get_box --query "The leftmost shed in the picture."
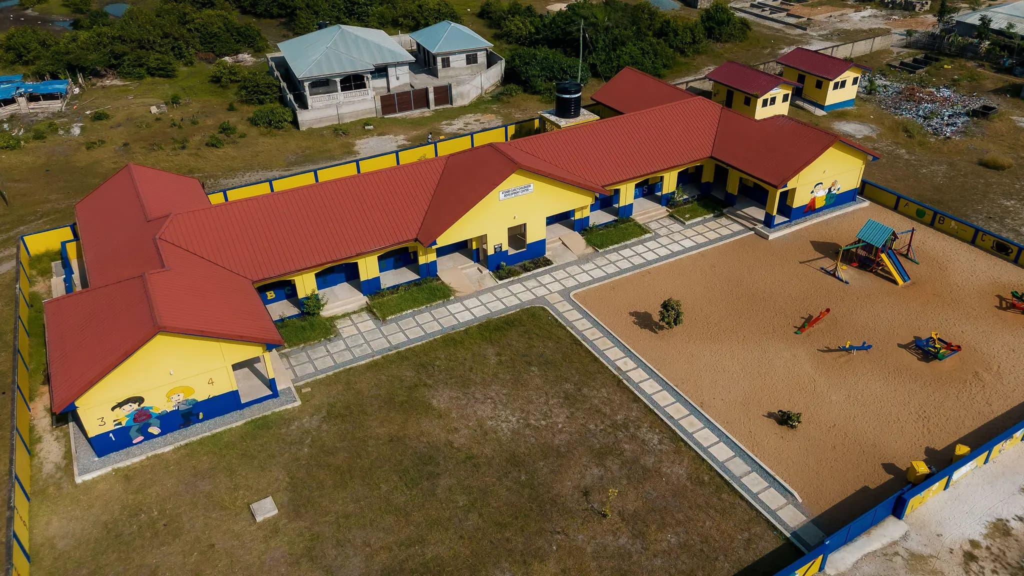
[0,73,72,118]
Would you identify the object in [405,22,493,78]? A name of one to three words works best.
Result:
house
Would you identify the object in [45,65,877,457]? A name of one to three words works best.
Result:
building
